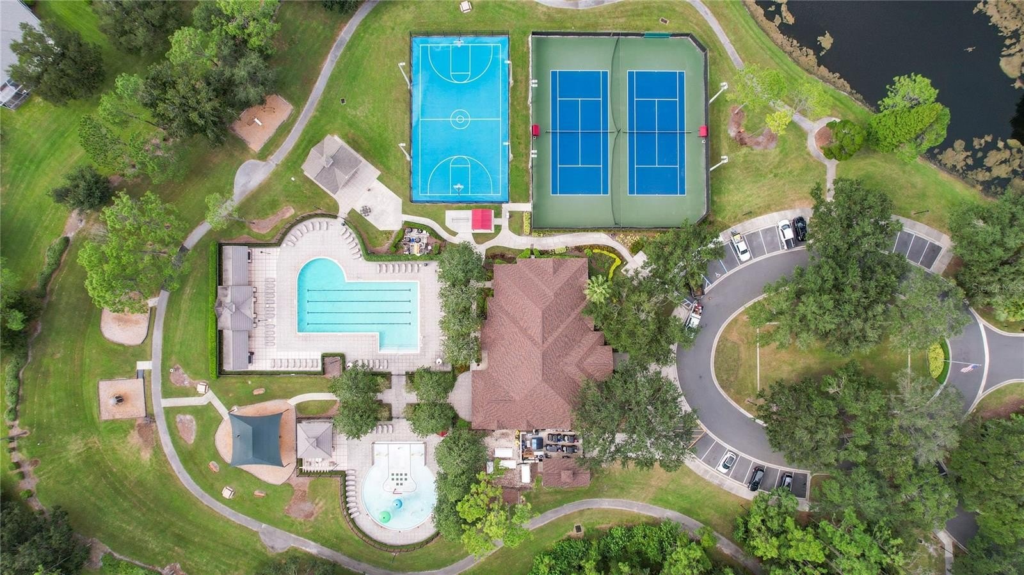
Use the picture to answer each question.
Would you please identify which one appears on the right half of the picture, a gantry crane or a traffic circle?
traffic circle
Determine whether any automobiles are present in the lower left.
No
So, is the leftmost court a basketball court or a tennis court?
basketball court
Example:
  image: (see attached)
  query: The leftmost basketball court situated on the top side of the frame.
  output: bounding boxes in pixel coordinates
[412,36,509,202]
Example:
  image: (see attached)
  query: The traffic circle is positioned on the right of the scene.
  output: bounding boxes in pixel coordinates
[677,248,986,473]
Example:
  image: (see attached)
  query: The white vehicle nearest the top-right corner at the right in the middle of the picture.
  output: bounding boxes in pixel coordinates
[779,219,797,250]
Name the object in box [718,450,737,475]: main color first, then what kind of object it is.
white car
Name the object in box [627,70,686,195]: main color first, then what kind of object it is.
blue tennis court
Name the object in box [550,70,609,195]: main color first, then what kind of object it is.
blue tennis court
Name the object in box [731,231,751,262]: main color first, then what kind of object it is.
white vehicle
